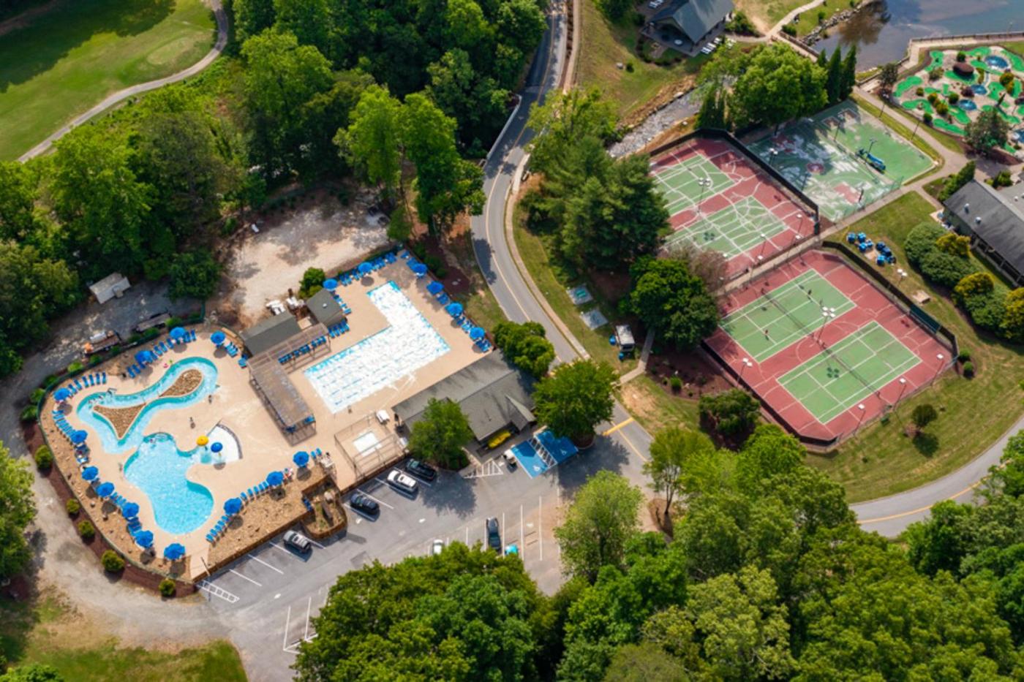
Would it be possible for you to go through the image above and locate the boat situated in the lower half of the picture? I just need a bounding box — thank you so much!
[480,429,512,451]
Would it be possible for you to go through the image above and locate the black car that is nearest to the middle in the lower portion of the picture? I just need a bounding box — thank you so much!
[405,459,436,481]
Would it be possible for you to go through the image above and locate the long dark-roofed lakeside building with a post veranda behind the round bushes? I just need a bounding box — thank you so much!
[946,182,1024,277]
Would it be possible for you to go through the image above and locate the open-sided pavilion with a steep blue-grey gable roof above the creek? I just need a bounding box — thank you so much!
[646,0,743,62]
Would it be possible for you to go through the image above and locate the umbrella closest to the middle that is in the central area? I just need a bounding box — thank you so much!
[470,328,485,342]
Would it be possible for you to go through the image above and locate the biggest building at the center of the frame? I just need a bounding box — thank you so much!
[392,348,539,438]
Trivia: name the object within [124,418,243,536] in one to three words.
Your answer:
swimming pool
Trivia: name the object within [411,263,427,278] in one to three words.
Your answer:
umbrella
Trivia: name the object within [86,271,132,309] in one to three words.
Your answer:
shed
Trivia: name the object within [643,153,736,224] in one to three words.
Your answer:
tennis court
